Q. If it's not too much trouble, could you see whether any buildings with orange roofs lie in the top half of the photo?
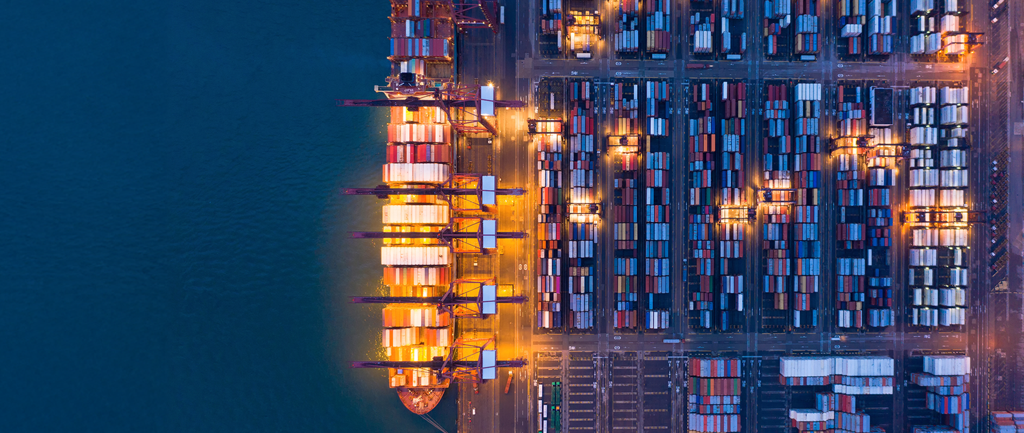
No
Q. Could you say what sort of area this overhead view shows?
port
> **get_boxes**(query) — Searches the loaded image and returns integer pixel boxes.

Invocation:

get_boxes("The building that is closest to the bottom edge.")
[868,87,893,125]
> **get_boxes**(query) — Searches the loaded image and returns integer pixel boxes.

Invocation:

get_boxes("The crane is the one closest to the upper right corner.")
[937,34,985,58]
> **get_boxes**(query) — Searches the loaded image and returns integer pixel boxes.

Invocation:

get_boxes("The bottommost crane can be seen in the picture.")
[349,320,530,384]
